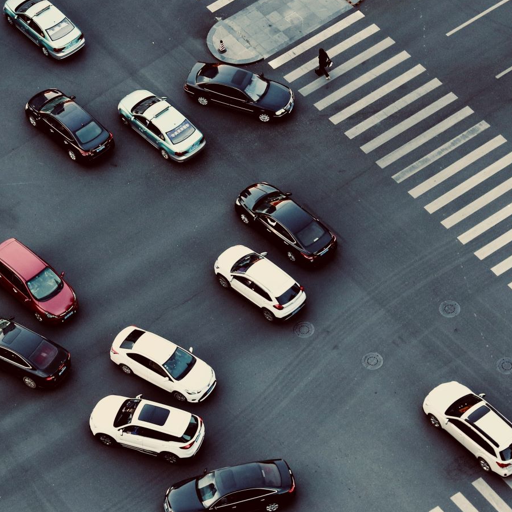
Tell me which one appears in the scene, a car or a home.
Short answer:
car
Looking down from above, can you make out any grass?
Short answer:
No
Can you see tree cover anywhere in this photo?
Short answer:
No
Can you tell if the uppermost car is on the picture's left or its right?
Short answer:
left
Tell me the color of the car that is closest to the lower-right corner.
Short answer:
white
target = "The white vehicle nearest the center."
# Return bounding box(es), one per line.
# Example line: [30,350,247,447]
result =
[213,246,311,323]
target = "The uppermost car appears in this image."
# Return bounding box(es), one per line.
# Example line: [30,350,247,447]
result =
[2,0,85,61]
